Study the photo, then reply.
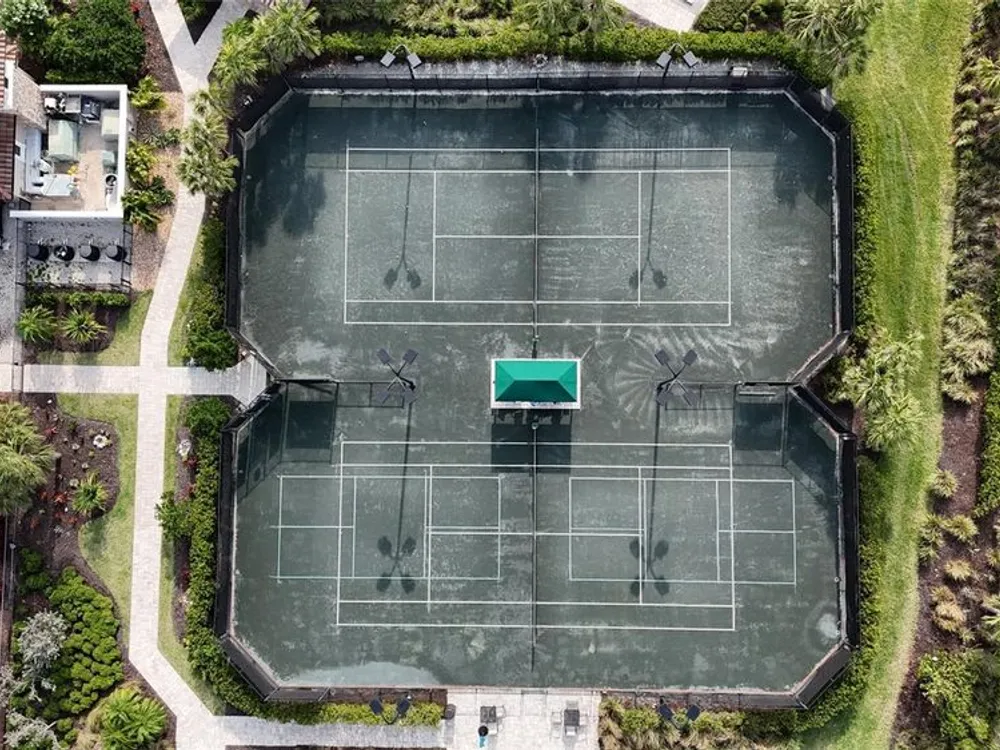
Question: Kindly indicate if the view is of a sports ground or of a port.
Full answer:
It's a sports ground.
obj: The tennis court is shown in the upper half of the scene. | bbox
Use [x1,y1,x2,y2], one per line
[242,93,837,382]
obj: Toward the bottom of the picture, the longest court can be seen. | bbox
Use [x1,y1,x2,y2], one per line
[233,379,843,690]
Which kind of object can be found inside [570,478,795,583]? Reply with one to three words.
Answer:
sports court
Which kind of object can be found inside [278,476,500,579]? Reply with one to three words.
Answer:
sports court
